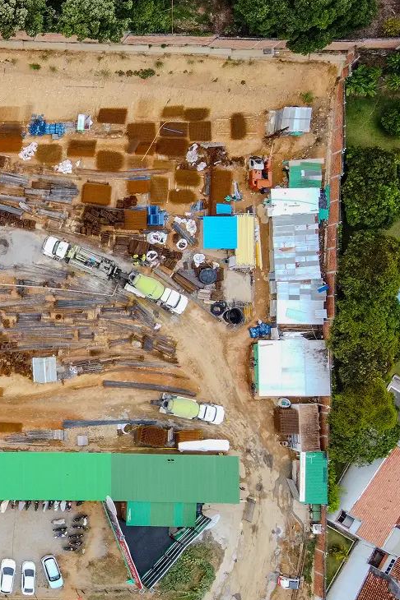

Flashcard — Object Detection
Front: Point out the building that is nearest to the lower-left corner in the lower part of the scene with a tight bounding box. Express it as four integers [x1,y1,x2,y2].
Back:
[0,453,241,526]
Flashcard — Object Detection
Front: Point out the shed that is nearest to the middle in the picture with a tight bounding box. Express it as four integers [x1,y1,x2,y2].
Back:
[195,216,238,250]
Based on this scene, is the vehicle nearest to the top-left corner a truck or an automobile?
truck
